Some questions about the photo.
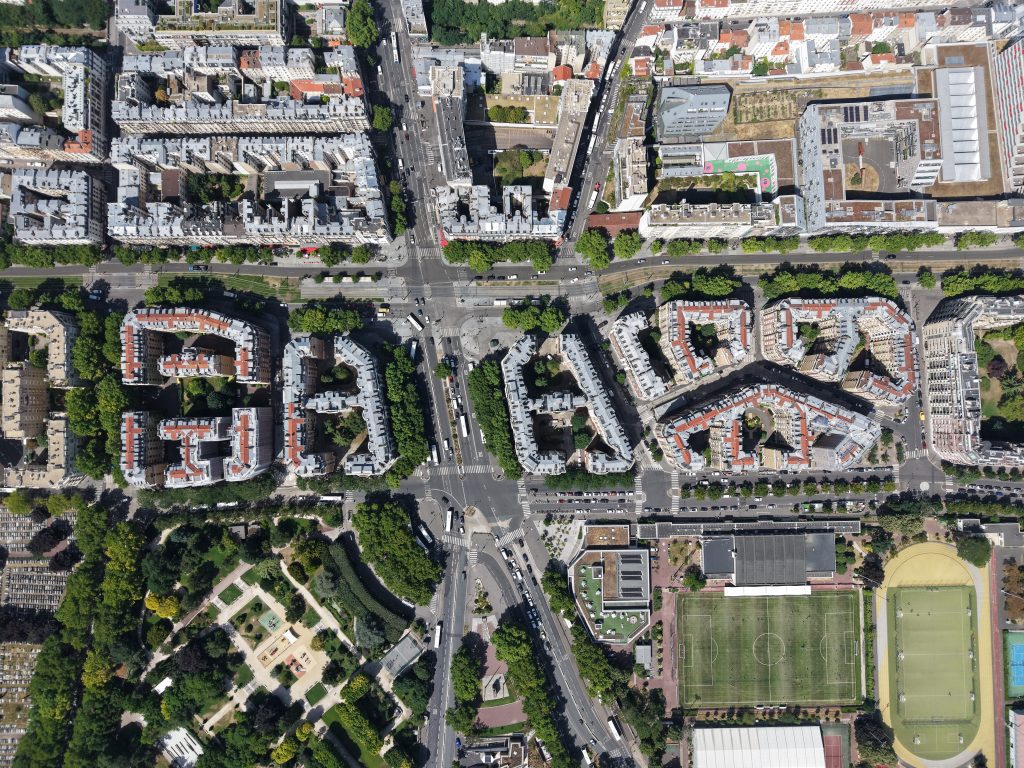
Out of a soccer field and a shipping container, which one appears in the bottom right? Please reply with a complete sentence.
What appears in the bottom right is a soccer field.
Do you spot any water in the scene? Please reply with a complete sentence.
No, there's no water in this view.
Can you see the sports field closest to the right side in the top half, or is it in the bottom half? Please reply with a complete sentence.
The sports field closest to the right side sits in the bottom half of the picture.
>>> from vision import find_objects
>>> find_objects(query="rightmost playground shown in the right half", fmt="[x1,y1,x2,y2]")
[703,155,778,195]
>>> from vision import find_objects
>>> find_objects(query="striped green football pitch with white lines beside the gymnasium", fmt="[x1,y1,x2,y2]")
[677,589,864,709]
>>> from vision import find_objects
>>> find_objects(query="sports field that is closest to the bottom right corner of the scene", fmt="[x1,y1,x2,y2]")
[876,542,993,768]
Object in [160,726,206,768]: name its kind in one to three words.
greenhouse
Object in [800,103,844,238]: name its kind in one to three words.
building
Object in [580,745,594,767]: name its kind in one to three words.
vehicle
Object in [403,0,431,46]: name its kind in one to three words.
building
